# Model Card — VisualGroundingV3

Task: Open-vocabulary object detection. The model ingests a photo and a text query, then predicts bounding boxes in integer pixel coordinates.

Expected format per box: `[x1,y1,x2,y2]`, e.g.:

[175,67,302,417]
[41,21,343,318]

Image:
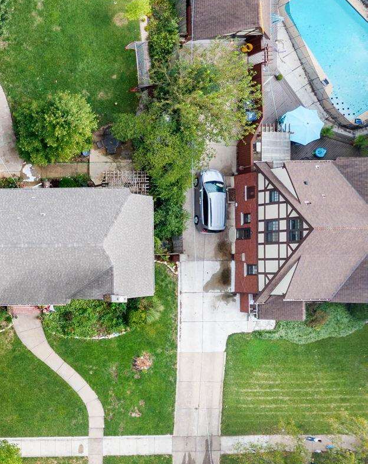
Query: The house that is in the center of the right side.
[225,157,368,320]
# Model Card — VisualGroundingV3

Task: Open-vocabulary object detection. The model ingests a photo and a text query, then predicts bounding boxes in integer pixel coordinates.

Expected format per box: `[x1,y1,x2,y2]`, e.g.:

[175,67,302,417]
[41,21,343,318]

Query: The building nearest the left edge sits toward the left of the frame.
[0,189,153,315]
